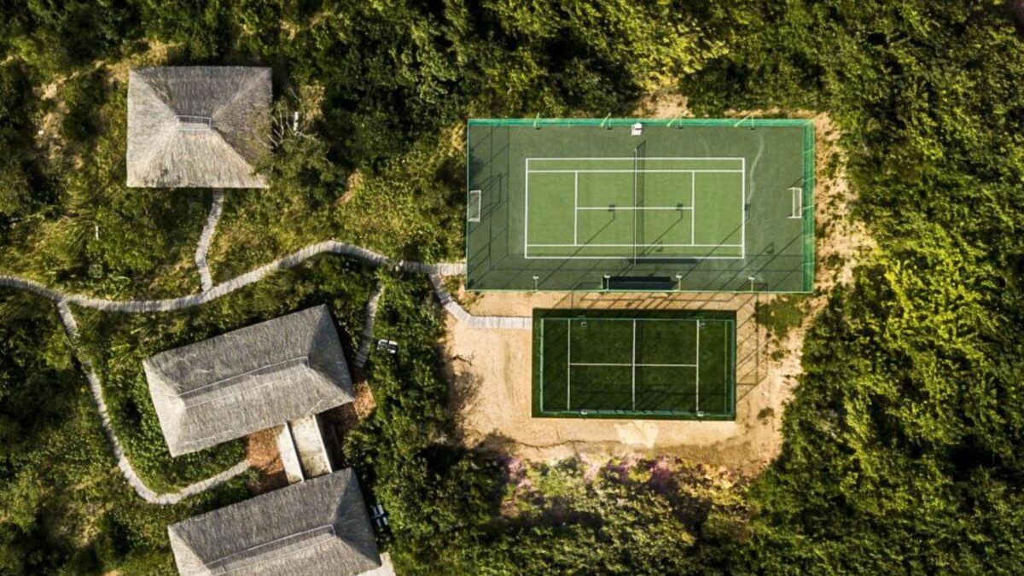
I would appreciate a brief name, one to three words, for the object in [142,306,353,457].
house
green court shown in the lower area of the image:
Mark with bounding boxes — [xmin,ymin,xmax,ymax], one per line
[532,309,735,420]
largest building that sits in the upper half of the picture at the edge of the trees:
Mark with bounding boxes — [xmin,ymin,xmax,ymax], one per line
[125,66,273,189]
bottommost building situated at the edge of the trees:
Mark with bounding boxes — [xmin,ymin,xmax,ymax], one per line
[168,468,383,576]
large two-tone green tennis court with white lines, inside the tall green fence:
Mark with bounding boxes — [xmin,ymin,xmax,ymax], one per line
[468,126,805,291]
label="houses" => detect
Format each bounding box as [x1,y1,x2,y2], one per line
[168,468,383,576]
[142,306,353,457]
[125,66,273,189]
